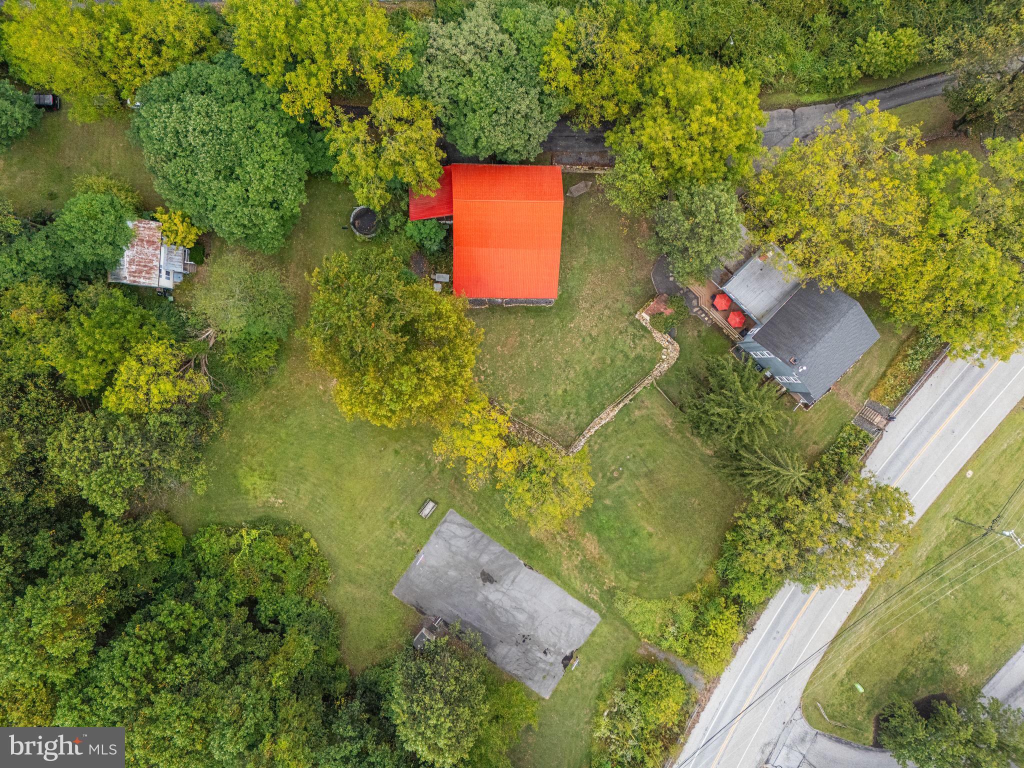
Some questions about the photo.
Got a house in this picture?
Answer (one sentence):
Yes, the picture does show a house.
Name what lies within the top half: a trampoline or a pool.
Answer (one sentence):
The one visible within the top half is a trampoline.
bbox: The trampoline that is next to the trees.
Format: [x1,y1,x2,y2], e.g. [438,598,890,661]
[347,207,379,235]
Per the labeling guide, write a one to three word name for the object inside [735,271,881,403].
house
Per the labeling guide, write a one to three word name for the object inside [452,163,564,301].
barn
